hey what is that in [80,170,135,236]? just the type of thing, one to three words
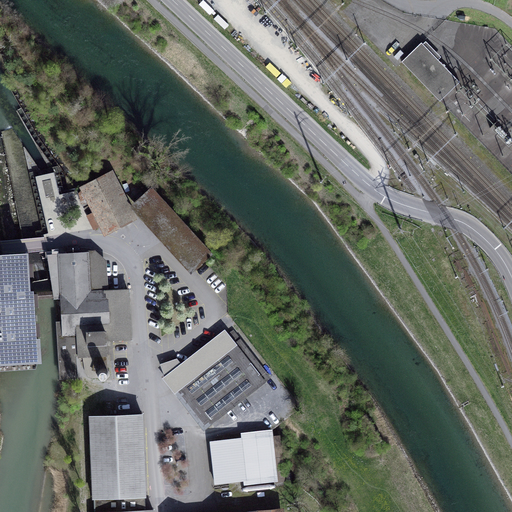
barn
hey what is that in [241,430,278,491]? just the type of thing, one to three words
building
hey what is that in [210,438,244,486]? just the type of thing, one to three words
building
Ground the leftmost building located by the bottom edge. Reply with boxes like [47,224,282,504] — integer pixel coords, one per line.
[89,414,148,500]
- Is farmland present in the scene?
No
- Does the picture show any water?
Yes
